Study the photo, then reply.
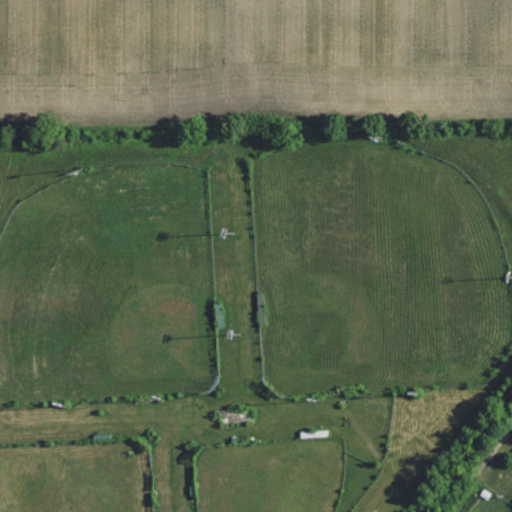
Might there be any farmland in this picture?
Yes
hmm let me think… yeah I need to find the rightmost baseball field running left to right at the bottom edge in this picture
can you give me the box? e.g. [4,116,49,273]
[196,444,345,512]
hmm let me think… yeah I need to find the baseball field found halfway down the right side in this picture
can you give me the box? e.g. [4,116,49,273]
[250,144,512,395]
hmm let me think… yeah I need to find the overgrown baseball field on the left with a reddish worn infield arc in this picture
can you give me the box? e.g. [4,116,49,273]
[0,164,218,398]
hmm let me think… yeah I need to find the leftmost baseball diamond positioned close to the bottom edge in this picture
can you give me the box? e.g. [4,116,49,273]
[0,447,152,512]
